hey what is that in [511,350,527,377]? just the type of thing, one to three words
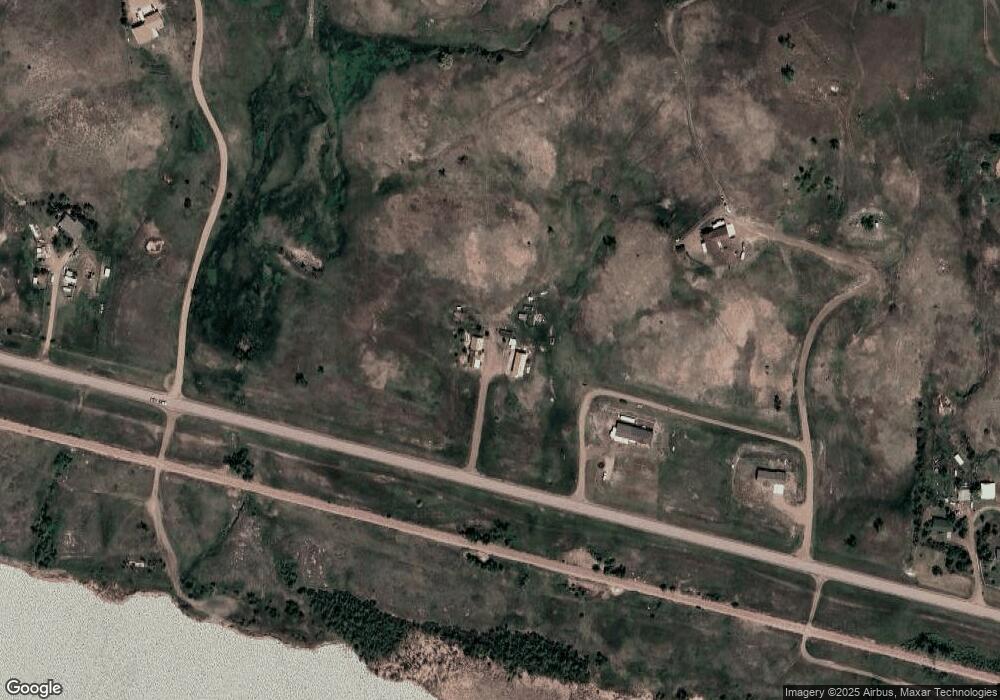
barn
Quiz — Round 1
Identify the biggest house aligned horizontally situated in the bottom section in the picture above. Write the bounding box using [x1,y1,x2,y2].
[615,423,654,445]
